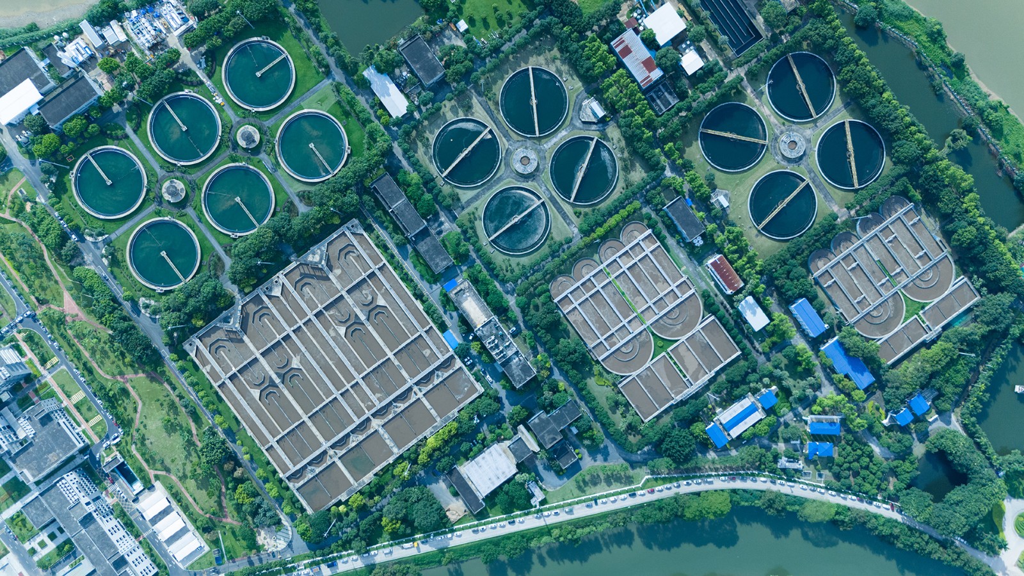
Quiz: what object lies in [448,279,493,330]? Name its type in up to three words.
building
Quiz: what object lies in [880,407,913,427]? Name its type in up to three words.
building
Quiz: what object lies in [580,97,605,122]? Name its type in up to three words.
house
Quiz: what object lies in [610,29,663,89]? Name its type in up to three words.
shed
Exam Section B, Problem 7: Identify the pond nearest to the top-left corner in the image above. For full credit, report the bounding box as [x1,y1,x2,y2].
[318,0,424,58]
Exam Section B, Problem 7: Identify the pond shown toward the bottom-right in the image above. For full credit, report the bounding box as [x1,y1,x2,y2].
[911,447,971,507]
